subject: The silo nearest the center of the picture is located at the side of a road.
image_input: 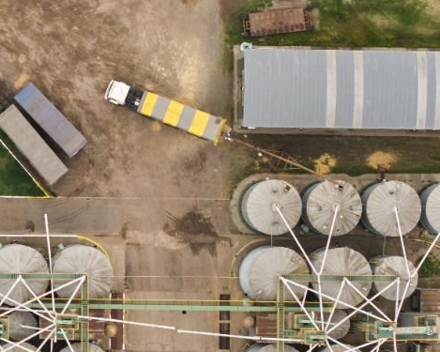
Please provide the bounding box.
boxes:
[238,178,302,237]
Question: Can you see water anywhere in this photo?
No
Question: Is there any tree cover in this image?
No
